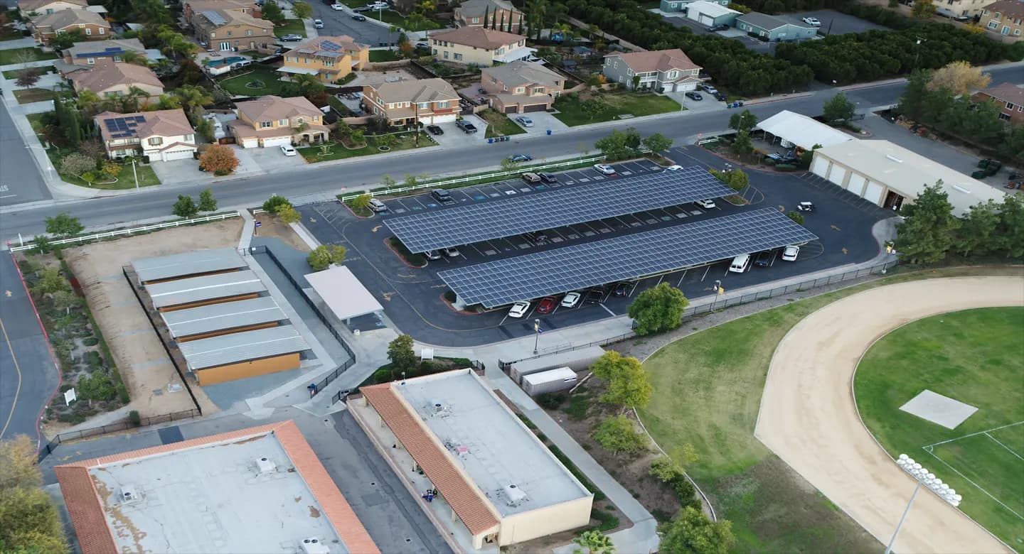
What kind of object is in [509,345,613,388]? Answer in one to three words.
shipping container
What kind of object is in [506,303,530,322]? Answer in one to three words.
car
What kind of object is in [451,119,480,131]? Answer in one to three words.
vehicle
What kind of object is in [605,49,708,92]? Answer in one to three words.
house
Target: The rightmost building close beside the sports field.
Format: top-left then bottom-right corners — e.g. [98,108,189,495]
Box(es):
[808,137,1024,244]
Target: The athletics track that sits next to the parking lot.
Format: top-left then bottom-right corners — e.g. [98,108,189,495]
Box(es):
[755,276,1024,554]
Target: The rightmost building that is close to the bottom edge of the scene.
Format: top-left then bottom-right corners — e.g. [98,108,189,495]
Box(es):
[357,367,594,554]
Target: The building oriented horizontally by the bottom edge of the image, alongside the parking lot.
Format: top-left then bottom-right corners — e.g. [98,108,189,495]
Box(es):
[55,417,381,554]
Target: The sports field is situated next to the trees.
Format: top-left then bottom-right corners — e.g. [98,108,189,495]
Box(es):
[853,306,1024,554]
